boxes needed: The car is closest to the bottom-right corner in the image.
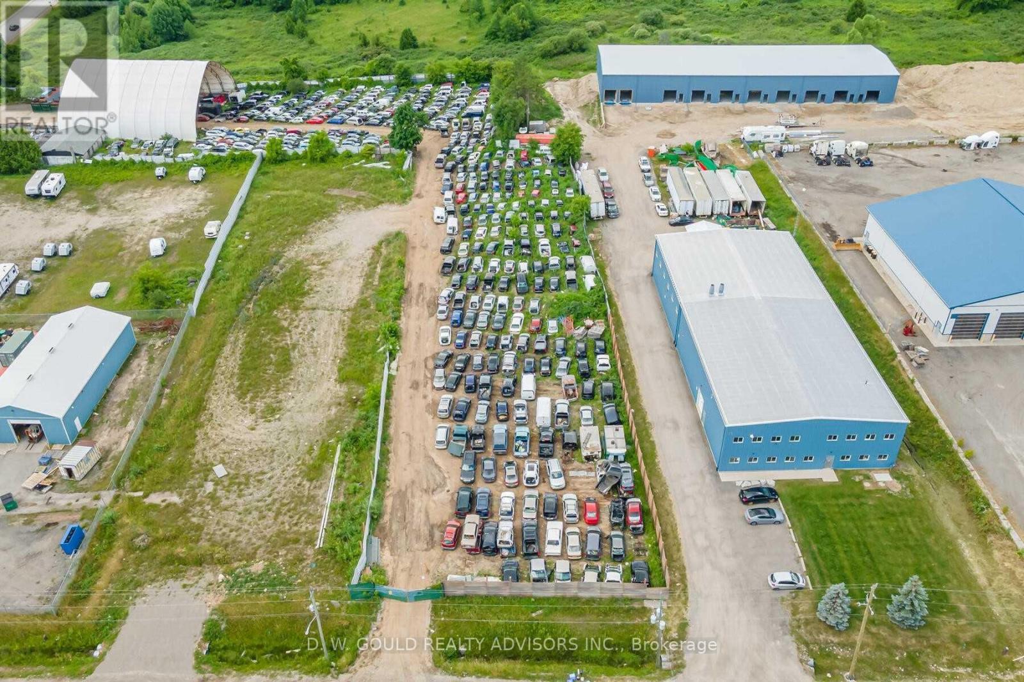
[765,572,808,592]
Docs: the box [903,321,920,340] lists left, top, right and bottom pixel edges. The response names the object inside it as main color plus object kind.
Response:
red vehicle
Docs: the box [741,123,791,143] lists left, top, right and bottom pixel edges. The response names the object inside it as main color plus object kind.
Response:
white camper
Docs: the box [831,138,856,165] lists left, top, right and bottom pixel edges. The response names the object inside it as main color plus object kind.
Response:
white truck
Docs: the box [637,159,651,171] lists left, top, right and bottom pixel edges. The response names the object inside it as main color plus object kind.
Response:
white vehicle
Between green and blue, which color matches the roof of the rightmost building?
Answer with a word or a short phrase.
blue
